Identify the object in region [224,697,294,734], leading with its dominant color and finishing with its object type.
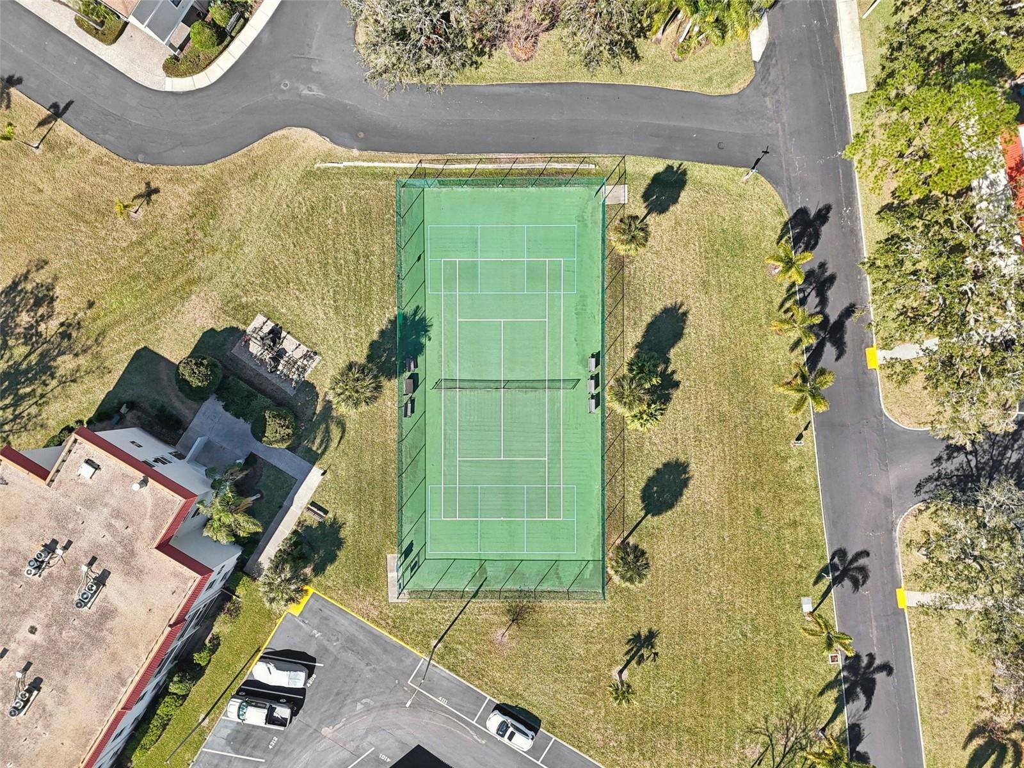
white truck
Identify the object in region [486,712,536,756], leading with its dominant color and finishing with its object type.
white car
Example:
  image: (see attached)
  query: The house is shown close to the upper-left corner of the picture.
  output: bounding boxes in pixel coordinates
[100,0,198,56]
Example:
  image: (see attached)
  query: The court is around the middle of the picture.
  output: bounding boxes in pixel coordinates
[403,187,601,590]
